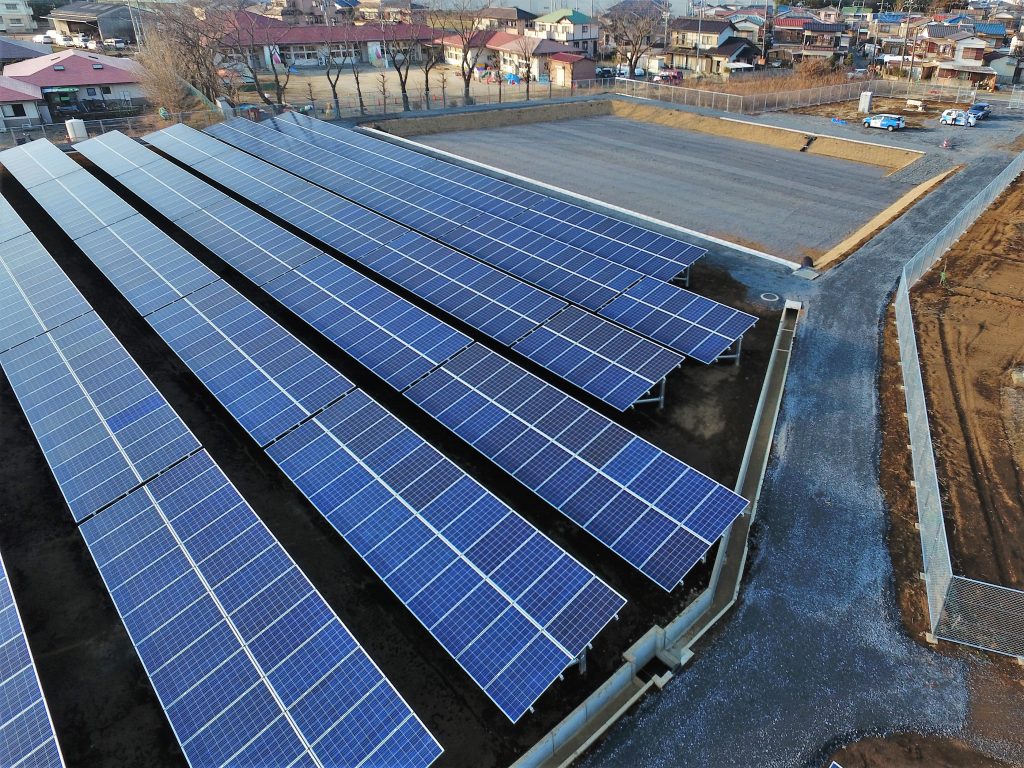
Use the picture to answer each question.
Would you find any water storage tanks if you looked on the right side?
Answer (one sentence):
No, there's no water storage tank to be seen on the right side.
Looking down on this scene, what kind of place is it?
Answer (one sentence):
This image shows a solar farm.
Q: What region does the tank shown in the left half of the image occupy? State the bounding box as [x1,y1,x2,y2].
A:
[58,115,89,146]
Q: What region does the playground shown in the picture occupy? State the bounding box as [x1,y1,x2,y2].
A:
[231,64,566,119]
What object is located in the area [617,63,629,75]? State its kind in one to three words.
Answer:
vehicle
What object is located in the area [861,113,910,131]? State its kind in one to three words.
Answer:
car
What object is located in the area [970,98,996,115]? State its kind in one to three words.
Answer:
car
